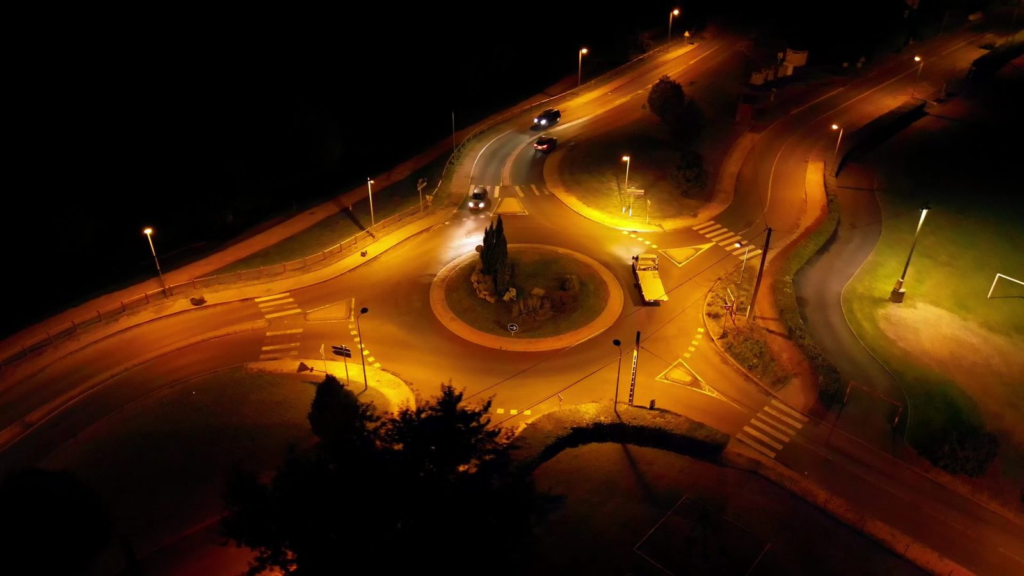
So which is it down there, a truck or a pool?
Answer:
truck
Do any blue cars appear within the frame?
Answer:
No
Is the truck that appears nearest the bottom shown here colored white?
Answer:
No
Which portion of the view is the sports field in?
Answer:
right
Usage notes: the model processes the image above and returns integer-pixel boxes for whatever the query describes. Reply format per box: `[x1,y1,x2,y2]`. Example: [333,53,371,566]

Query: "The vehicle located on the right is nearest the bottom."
[629,251,670,305]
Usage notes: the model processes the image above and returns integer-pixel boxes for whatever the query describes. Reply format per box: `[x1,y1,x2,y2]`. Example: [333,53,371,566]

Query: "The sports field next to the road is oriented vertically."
[842,88,1024,506]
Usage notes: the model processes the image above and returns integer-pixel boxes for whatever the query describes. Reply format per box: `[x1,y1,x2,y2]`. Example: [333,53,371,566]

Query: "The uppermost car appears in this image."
[533,110,563,129]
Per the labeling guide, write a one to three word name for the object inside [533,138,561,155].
car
